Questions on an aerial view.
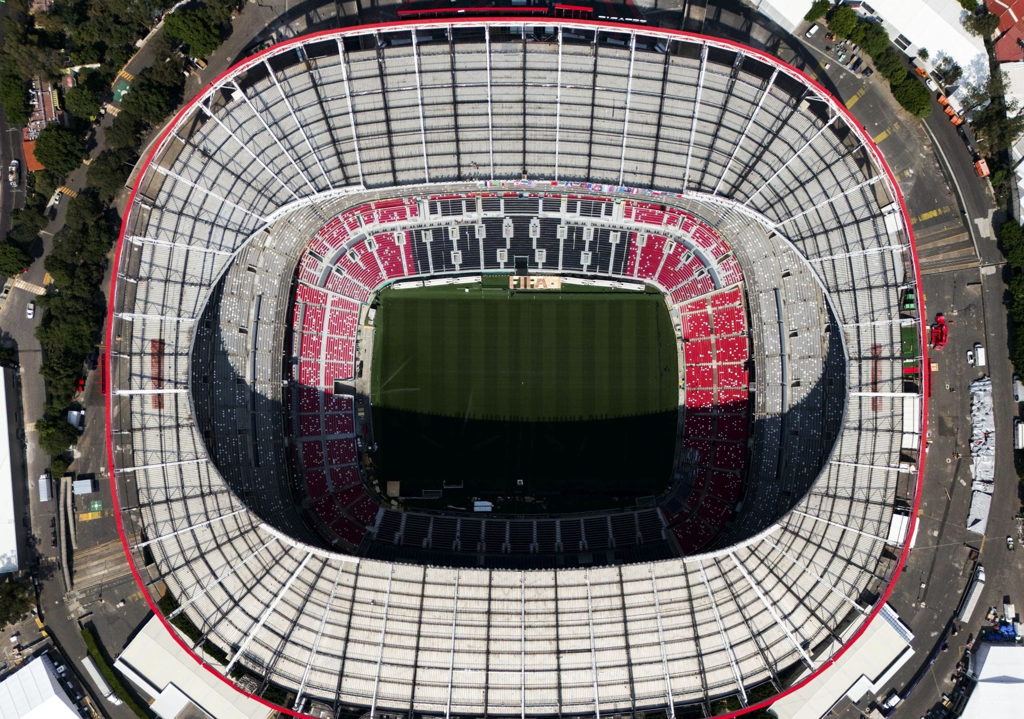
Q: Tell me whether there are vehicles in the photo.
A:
Yes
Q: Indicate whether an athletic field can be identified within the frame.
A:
Yes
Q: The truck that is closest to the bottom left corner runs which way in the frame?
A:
diagonally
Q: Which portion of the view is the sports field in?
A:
center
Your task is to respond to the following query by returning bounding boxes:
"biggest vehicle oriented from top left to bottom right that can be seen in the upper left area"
[187,54,204,69]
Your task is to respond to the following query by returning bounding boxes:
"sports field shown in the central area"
[382,299,659,484]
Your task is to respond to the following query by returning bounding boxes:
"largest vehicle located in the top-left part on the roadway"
[8,162,20,189]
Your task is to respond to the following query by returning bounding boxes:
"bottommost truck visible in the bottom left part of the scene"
[74,656,122,707]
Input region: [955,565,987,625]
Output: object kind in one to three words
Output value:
truck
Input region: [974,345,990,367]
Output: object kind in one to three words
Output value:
vehicle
